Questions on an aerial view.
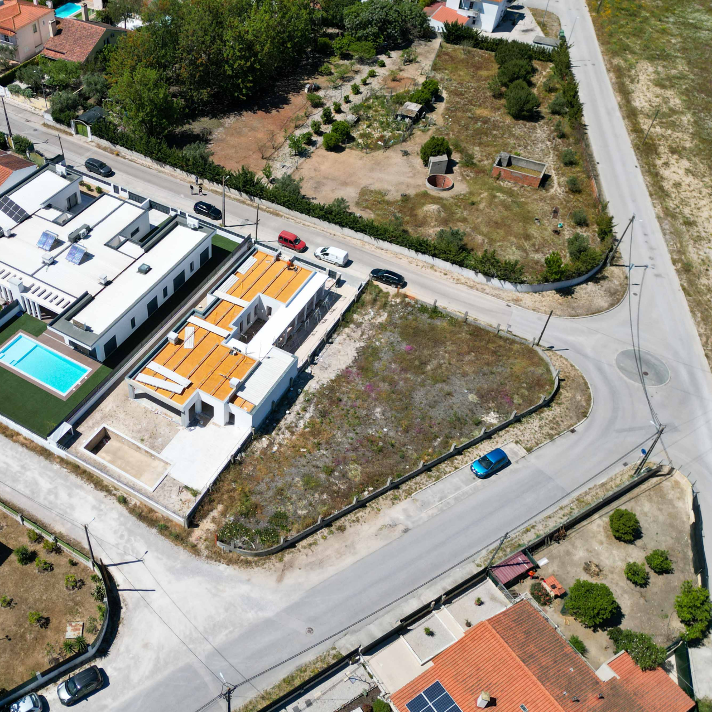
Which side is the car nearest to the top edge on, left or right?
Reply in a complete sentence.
The car nearest to the top edge sits on the left side.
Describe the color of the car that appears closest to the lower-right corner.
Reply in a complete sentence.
The color of the car that appears closest to the lower-right corner is blue.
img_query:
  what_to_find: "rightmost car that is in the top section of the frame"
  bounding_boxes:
[370,266,407,285]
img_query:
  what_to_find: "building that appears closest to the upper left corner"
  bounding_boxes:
[0,0,53,60]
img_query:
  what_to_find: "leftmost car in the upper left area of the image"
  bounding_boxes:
[82,151,114,175]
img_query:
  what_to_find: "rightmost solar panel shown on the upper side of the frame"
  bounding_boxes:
[66,242,86,265]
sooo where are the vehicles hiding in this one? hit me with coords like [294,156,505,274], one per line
[469,442,516,478]
[316,242,350,263]
[277,222,307,249]
[54,661,107,707]
[82,151,114,175]
[192,194,222,216]
[0,687,43,712]
[370,266,407,285]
